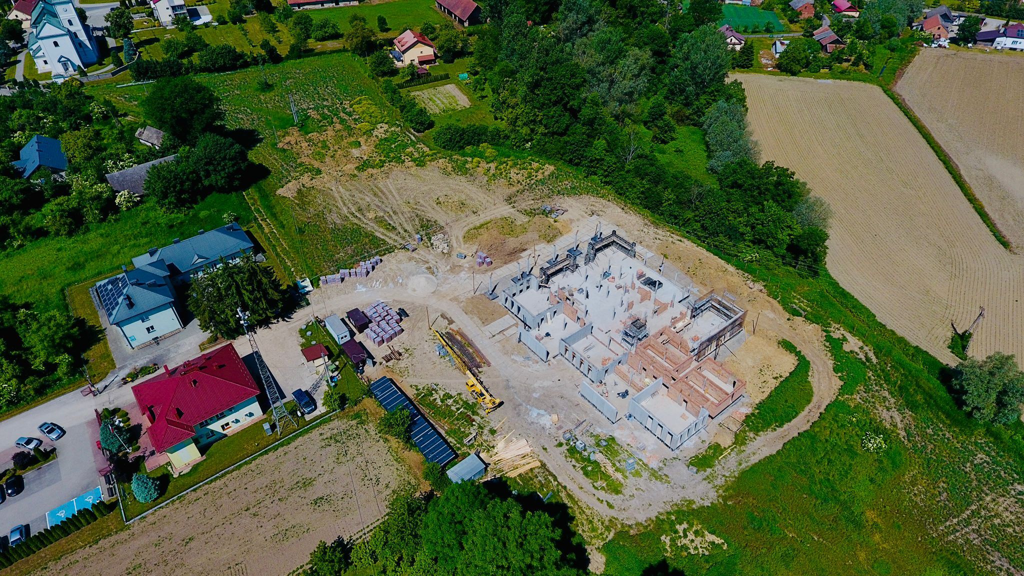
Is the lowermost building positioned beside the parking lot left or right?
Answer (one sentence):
It is on the left.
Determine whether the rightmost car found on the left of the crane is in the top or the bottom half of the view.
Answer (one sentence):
The bottom half of the photo is where the rightmost car found on the left of the crane is.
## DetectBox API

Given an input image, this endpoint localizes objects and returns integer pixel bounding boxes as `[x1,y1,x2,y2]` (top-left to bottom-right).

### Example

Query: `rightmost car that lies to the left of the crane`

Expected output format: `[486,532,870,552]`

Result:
[289,387,317,415]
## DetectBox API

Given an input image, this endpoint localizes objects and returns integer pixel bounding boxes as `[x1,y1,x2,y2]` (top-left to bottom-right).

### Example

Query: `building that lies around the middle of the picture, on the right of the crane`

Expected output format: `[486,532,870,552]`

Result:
[482,234,748,452]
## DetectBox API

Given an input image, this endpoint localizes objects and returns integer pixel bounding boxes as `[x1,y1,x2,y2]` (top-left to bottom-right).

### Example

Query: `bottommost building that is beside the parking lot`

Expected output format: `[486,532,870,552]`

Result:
[130,341,265,480]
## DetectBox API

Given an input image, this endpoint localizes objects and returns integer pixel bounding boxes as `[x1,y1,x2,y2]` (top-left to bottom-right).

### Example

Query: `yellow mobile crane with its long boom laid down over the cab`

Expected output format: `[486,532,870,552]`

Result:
[430,330,508,415]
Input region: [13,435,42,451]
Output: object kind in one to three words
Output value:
car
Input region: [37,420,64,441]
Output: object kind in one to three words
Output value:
car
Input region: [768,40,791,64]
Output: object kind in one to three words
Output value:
house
